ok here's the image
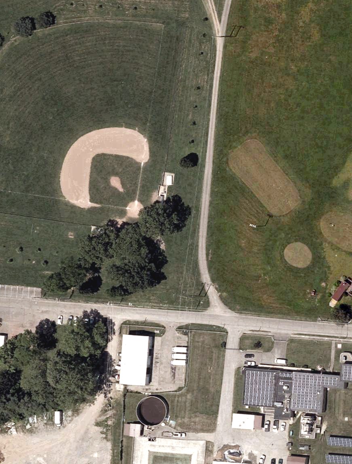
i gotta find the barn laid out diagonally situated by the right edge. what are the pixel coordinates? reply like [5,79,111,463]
[329,277,352,307]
